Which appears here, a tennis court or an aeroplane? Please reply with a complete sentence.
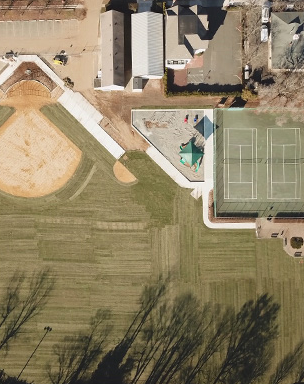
The one in the frame is a tennis court.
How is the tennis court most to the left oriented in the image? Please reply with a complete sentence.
The tennis court most to the left runs up and down in the image.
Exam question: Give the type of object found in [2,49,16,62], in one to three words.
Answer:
vehicle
